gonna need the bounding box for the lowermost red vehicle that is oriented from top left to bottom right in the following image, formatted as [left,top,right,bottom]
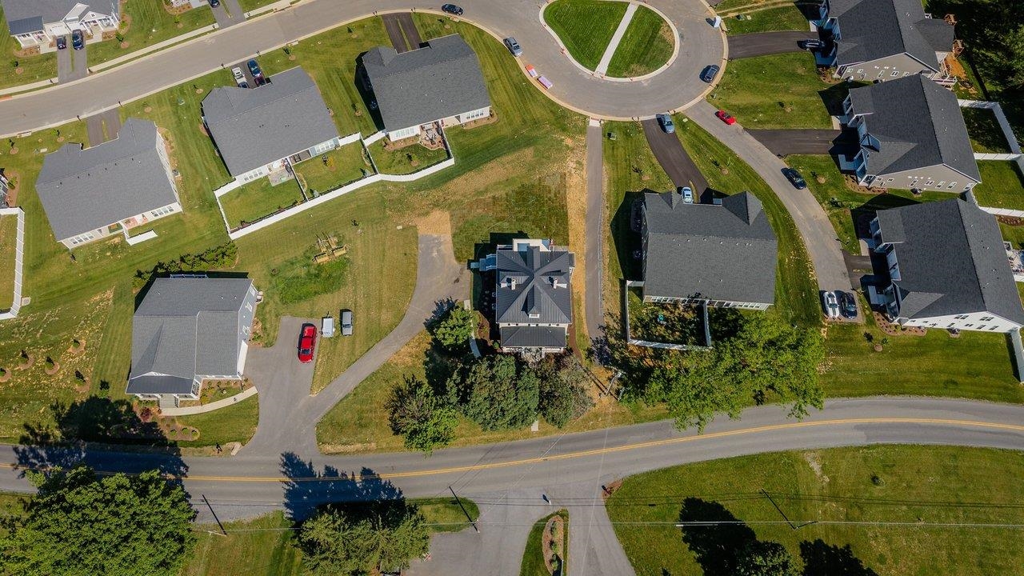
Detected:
[713,108,736,128]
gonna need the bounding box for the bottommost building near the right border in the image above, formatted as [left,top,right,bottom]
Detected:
[856,199,1024,333]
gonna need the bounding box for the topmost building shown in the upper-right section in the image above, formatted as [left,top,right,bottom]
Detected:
[808,0,965,82]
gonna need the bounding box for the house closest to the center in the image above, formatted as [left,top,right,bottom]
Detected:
[459,238,573,364]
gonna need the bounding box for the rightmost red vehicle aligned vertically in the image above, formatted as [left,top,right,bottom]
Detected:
[299,325,317,361]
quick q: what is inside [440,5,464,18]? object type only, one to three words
vehicle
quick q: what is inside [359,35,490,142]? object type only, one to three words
house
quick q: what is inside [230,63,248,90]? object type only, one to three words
vehicle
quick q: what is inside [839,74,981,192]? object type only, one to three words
house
